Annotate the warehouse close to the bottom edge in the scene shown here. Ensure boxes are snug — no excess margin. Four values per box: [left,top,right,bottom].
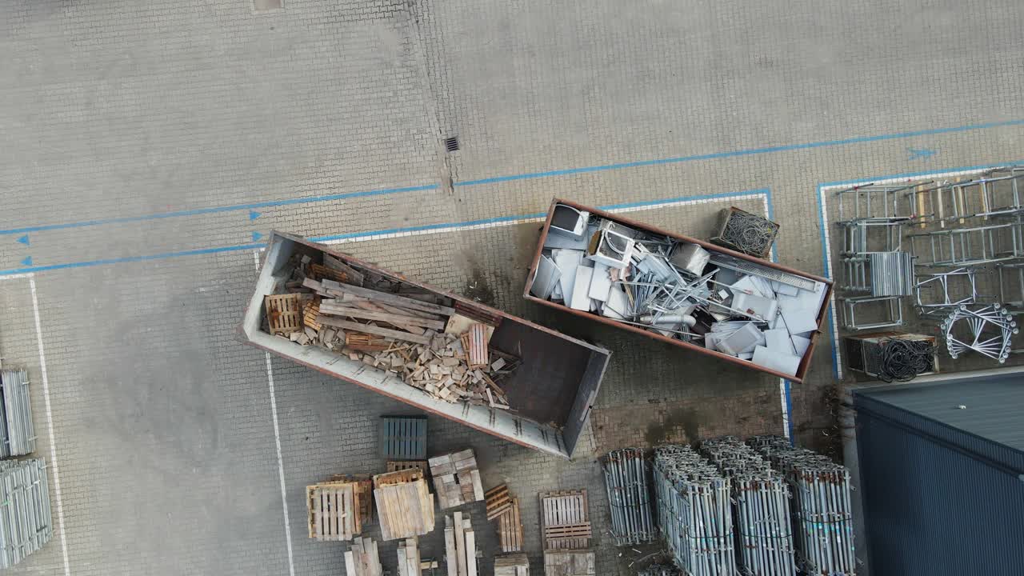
[851,373,1024,576]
